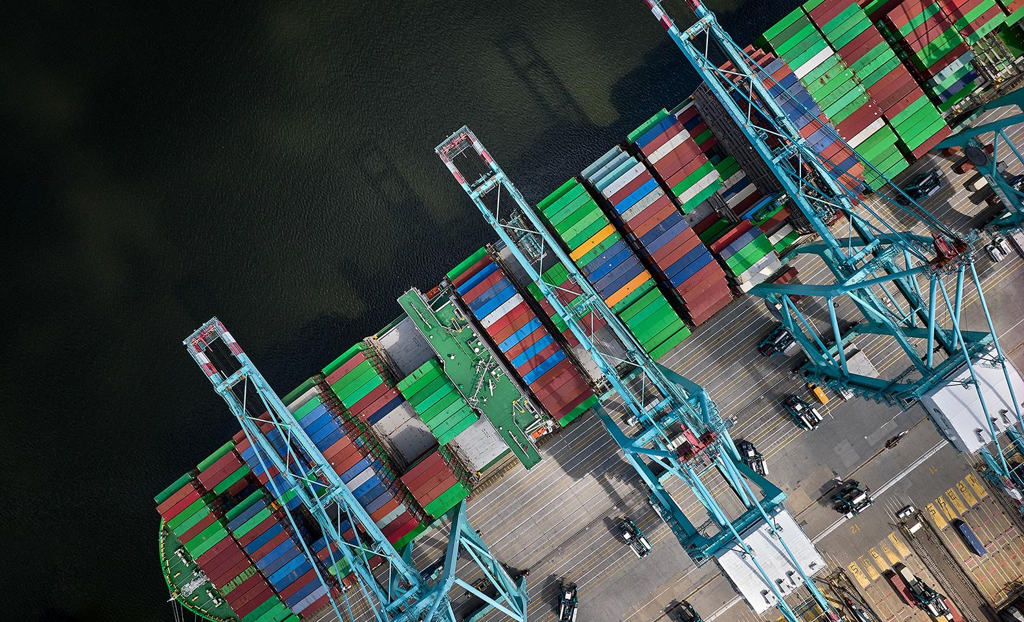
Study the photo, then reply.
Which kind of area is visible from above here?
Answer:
port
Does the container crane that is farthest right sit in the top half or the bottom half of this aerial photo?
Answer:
top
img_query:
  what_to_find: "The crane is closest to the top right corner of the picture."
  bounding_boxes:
[913,85,1024,234]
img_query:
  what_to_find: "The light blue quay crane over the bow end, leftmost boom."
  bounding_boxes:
[170,313,537,622]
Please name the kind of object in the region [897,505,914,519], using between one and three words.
vehicle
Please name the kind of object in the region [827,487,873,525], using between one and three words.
work vehicle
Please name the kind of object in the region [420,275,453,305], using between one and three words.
boat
